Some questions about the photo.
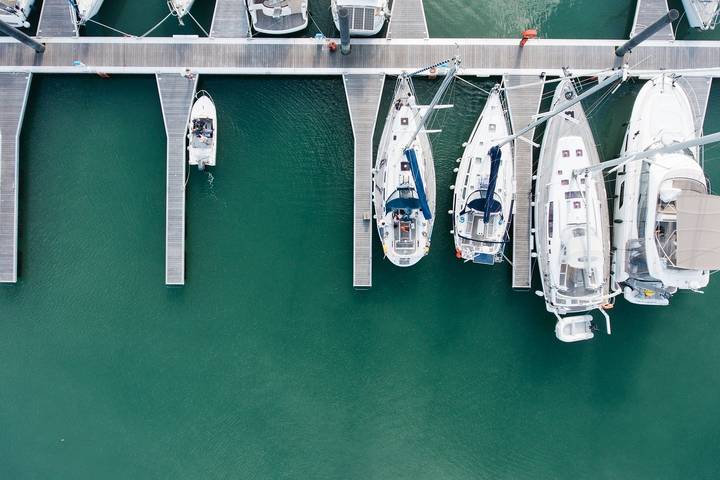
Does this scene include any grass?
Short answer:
No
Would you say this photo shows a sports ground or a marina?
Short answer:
marina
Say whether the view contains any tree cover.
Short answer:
No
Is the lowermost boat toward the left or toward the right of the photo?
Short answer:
right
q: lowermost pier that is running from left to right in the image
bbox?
[0,36,720,79]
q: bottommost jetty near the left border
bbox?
[0,73,35,283]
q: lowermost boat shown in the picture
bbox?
[555,315,600,343]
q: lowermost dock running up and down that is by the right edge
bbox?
[671,75,713,172]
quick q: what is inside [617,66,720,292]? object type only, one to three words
boat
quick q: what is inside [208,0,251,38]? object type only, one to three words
pier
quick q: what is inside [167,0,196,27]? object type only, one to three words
boat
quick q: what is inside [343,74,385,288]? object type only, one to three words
pier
